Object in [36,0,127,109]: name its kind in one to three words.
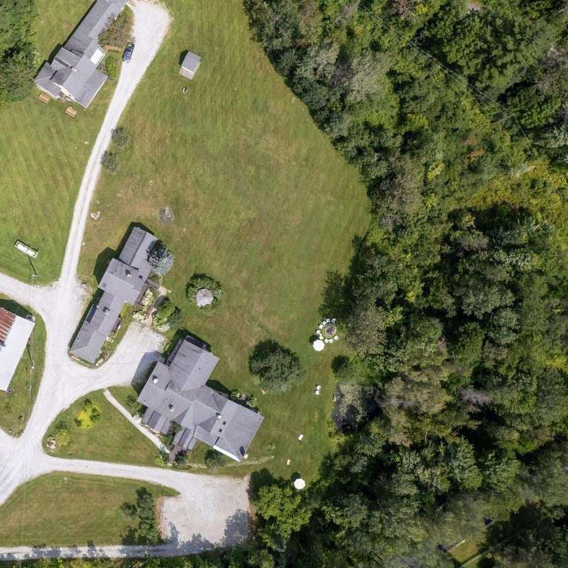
house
